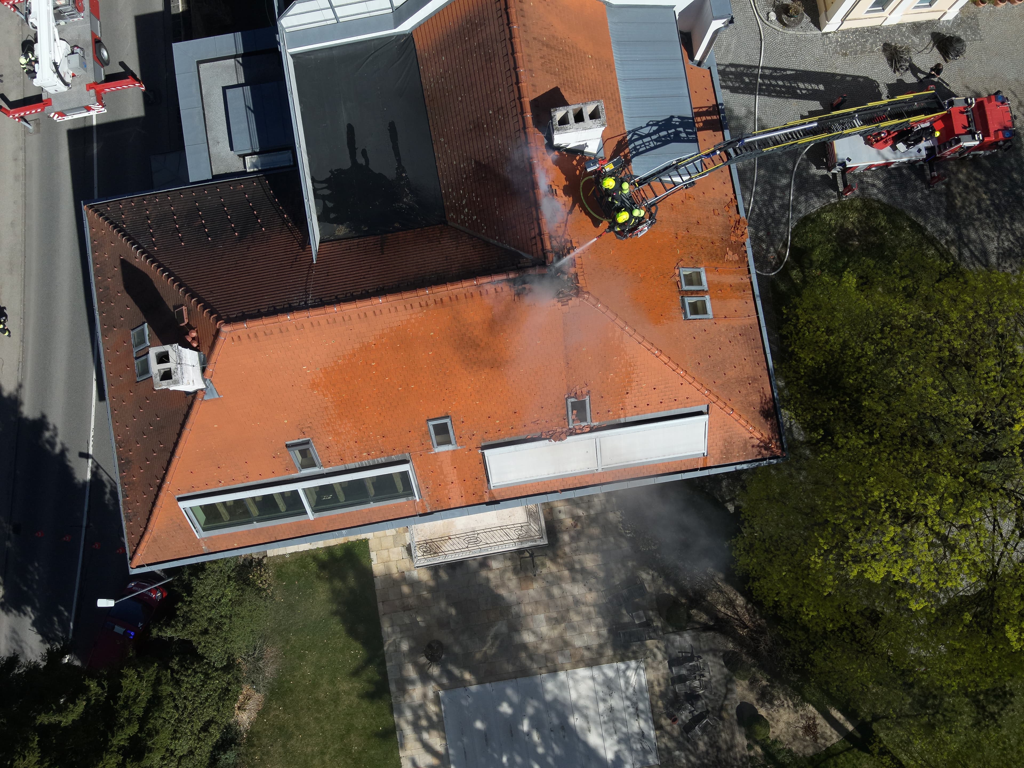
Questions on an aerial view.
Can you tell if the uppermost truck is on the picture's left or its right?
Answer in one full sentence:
It is on the left.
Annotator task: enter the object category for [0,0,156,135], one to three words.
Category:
truck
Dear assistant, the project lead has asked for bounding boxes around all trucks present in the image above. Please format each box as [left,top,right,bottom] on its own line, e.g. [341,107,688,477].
[0,0,156,135]
[585,73,1024,242]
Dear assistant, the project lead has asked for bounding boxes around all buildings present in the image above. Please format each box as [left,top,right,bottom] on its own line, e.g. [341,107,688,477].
[818,0,973,35]
[76,0,795,575]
